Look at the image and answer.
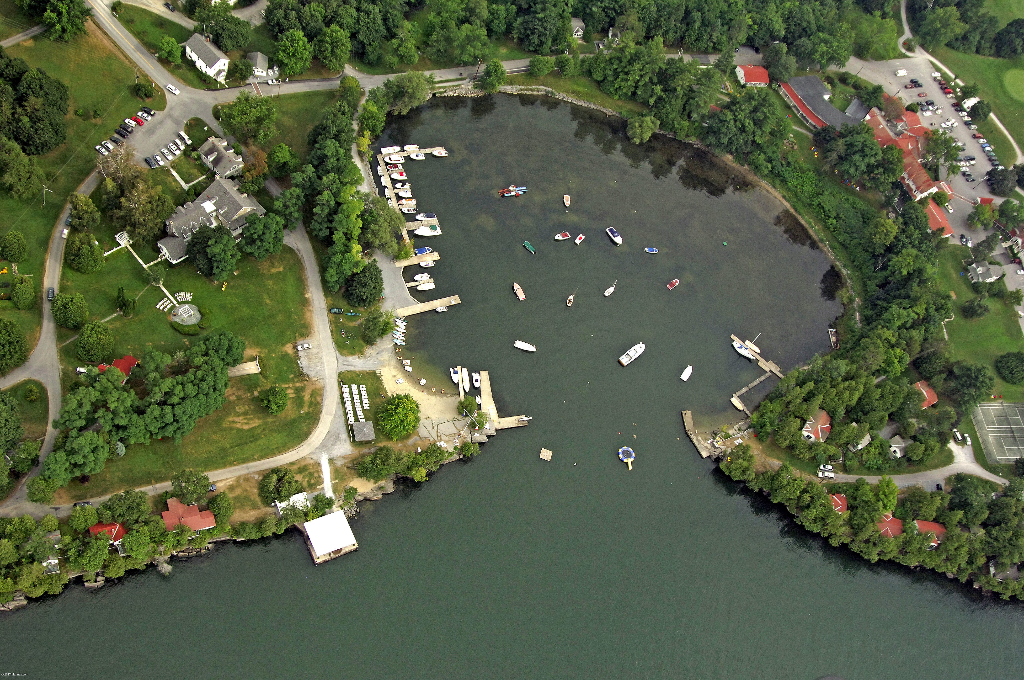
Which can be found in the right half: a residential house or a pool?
residential house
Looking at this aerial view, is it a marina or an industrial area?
marina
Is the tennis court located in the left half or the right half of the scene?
right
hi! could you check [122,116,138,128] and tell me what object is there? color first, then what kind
white vehicle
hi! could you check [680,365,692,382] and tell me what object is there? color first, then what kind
white boat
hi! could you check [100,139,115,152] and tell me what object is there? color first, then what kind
white vehicle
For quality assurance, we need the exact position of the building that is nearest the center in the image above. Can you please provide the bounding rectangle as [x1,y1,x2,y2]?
[352,421,375,444]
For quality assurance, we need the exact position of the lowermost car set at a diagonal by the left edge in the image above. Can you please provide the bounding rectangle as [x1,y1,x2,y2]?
[30,454,43,470]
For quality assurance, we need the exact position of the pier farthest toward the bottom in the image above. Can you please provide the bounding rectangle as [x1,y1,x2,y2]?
[295,510,358,565]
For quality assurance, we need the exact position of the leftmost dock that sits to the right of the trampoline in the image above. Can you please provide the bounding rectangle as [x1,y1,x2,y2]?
[681,411,712,459]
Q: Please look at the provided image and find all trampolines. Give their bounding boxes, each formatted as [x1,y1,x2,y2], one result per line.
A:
[618,446,635,470]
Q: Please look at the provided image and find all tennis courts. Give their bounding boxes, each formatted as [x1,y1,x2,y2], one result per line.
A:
[971,401,1024,464]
